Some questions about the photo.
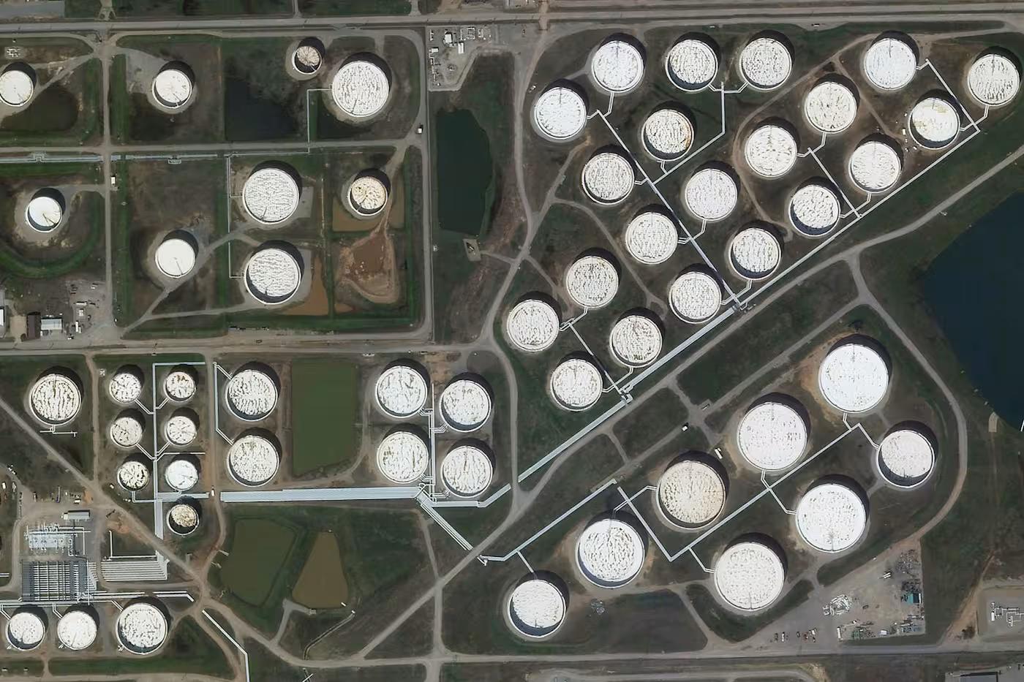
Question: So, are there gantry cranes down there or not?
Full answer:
No, there appears to be no gantry crane in this shot.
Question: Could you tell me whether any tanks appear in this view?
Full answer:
Yes, I can see a tank in this picture.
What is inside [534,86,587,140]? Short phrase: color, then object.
white storage tank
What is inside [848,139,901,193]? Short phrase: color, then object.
white storage tank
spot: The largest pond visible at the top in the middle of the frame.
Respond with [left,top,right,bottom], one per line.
[437,110,491,235]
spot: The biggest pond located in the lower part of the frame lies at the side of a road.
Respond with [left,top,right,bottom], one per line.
[292,359,358,473]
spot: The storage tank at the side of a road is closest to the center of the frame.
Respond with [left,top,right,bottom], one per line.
[507,298,559,352]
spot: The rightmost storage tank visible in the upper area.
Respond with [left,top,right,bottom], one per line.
[967,52,1020,107]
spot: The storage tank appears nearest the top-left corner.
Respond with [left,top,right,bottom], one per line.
[0,70,35,107]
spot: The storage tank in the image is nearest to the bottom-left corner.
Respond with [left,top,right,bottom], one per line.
[6,611,46,651]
